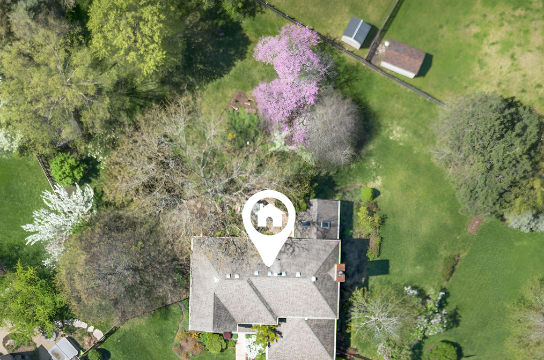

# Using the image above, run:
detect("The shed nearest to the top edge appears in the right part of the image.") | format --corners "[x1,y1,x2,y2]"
[342,16,371,49]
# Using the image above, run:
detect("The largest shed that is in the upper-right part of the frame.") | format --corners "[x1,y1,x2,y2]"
[378,39,425,79]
